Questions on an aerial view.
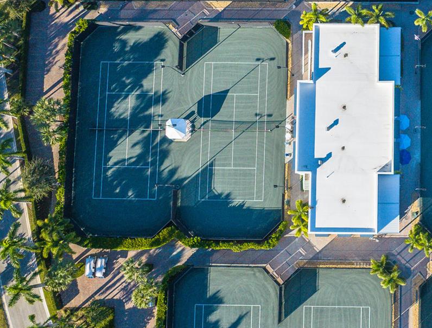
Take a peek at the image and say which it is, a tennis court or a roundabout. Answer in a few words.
tennis court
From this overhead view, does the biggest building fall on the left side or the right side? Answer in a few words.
right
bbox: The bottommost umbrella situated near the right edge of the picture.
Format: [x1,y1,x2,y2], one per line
[396,149,414,165]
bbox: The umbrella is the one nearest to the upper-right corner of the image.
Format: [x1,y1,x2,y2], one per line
[395,114,412,130]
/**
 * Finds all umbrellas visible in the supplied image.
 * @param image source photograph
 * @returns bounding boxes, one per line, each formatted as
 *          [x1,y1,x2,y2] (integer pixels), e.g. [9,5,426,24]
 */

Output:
[396,133,412,149]
[395,114,412,130]
[396,149,414,165]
